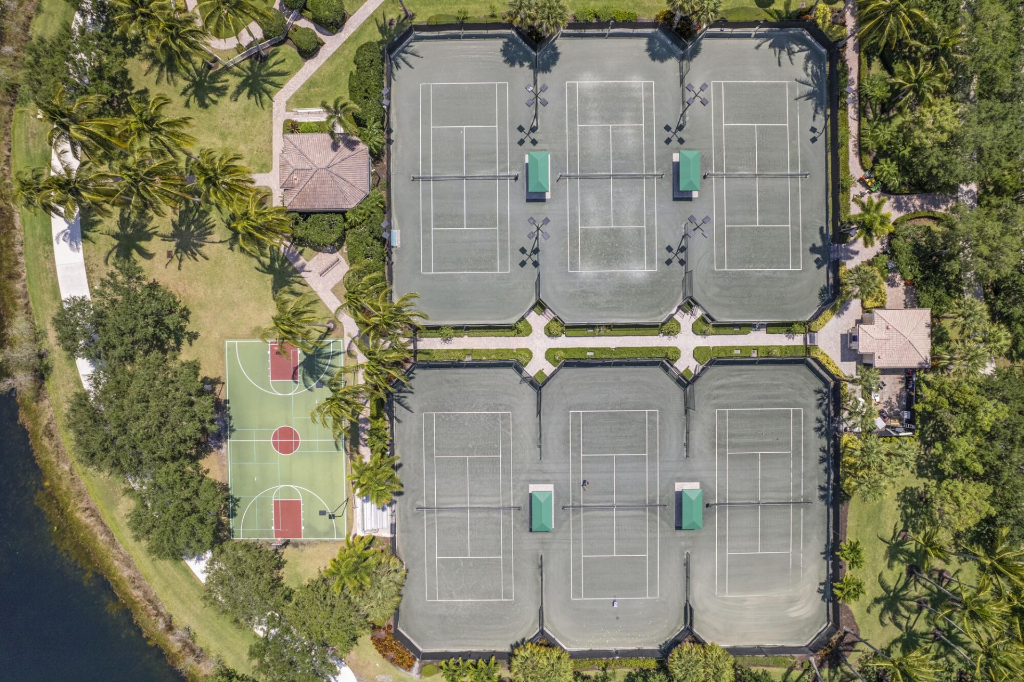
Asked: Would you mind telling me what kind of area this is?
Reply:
sports ground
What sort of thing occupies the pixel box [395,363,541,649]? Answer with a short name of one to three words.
tennis court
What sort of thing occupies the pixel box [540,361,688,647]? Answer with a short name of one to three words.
tennis court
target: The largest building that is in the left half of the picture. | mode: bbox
[278,133,370,210]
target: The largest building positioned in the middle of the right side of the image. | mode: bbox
[848,308,931,368]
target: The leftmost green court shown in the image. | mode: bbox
[224,338,349,542]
